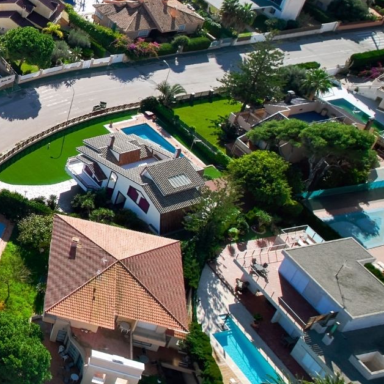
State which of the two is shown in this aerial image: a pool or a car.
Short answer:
pool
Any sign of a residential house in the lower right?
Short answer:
Yes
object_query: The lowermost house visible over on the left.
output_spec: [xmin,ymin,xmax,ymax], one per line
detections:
[44,212,190,384]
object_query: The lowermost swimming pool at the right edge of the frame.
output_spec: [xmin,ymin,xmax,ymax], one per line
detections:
[320,206,384,250]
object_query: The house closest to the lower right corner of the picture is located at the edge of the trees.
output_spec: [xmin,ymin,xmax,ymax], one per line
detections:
[228,236,384,384]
